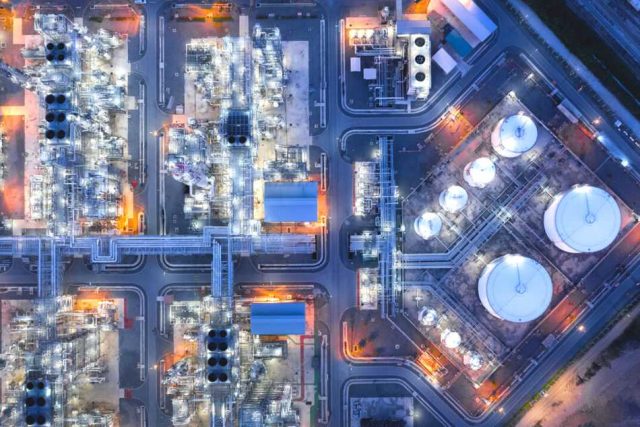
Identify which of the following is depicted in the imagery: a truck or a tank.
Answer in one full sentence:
There is a tank in the scene.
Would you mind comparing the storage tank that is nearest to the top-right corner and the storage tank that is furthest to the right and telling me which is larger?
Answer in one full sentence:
Compared with the storage tank that is nearest to the top-right corner, the storage tank that is furthest to the right is the bigger one.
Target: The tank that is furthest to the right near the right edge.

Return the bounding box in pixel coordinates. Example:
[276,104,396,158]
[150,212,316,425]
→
[546,186,622,254]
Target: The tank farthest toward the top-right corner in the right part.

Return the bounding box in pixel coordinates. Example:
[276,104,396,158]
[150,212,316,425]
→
[493,114,538,157]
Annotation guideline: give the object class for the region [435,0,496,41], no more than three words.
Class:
building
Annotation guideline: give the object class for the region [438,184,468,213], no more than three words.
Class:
storage tank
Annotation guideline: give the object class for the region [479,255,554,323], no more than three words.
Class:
storage tank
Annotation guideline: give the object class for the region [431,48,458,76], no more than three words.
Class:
shed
